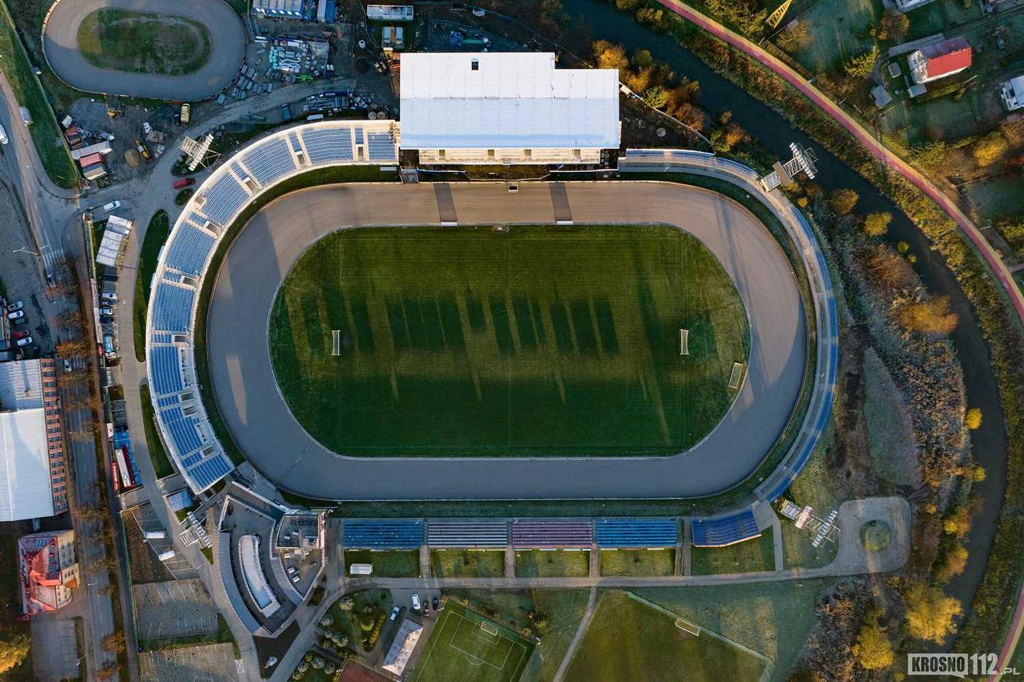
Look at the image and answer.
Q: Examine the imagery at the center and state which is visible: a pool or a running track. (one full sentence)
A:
What appears at the center is a running track.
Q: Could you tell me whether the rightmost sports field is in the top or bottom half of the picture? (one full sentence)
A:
Seen from above, the rightmost sports field lies in the bottom half of the view.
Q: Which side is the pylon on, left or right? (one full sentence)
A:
The pylon appears in the right half of the scene.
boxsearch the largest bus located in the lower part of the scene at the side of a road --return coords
[117,446,139,488]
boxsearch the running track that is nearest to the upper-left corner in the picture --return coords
[40,0,246,101]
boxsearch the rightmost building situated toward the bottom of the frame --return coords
[383,612,425,675]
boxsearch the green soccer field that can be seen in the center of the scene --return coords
[270,224,750,459]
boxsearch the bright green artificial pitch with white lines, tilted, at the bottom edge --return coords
[403,603,539,682]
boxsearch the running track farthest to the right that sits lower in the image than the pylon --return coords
[207,179,810,502]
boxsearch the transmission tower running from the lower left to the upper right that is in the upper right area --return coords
[765,0,795,30]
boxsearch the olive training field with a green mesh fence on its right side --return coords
[567,591,769,682]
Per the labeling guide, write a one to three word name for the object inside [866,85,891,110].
shed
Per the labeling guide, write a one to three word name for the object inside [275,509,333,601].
building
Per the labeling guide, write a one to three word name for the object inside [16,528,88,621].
house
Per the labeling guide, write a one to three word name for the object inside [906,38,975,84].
house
